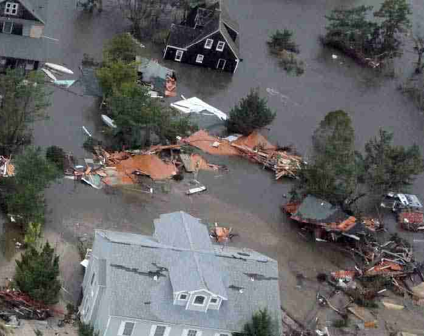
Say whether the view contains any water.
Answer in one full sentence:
Yes, the picture does contain water.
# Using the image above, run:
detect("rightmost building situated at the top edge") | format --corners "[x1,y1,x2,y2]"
[163,2,240,72]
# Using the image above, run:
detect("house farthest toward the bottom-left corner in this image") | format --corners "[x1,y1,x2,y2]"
[82,208,287,336]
